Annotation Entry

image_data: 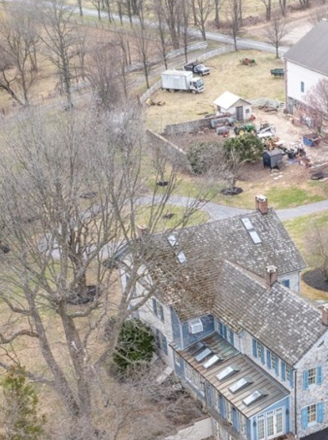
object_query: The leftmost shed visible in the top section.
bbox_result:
[212,89,257,121]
